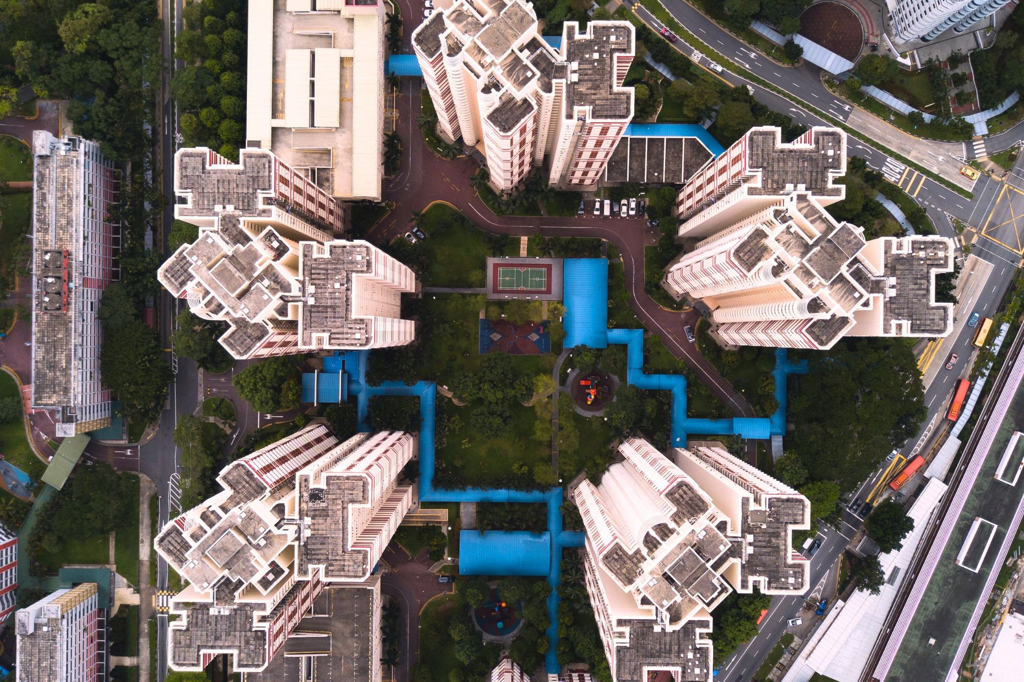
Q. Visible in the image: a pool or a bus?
bus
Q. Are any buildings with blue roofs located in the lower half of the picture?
Yes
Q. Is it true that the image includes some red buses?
Yes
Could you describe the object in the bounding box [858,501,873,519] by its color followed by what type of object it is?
black car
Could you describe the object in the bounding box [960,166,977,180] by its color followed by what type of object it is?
yellow car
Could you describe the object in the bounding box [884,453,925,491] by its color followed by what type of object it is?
red bus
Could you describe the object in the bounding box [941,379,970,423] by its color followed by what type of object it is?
red bus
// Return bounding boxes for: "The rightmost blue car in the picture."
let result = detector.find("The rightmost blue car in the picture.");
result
[967,311,980,328]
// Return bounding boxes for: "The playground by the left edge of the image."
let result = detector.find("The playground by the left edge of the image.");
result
[0,460,36,501]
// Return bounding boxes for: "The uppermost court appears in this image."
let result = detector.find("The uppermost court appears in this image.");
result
[486,256,563,300]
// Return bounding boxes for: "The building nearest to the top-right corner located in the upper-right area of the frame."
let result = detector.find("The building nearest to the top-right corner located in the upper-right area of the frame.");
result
[882,0,1022,96]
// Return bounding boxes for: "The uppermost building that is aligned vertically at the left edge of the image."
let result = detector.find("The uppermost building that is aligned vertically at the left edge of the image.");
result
[33,130,123,436]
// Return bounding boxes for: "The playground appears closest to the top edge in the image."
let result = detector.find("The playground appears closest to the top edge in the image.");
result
[564,363,620,419]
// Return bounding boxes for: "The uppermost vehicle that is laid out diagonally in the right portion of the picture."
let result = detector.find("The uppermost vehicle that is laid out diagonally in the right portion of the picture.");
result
[660,26,677,42]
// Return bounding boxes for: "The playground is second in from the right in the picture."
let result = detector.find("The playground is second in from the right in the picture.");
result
[471,586,526,641]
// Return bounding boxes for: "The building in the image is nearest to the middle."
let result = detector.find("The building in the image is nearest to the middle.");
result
[563,258,608,348]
